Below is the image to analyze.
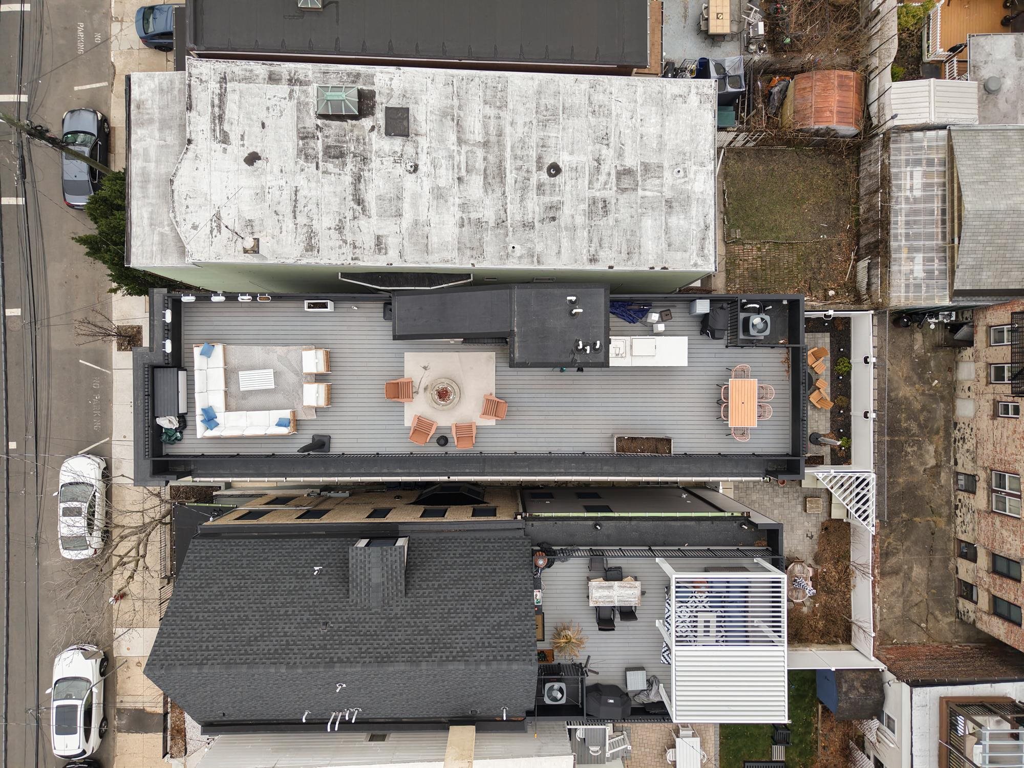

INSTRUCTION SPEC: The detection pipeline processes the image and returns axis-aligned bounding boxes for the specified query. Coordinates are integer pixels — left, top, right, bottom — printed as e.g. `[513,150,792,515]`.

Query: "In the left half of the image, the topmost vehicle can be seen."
[137,6,172,55]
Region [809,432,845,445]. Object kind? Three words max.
umbrella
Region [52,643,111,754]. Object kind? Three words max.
car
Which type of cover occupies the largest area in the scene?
buildings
